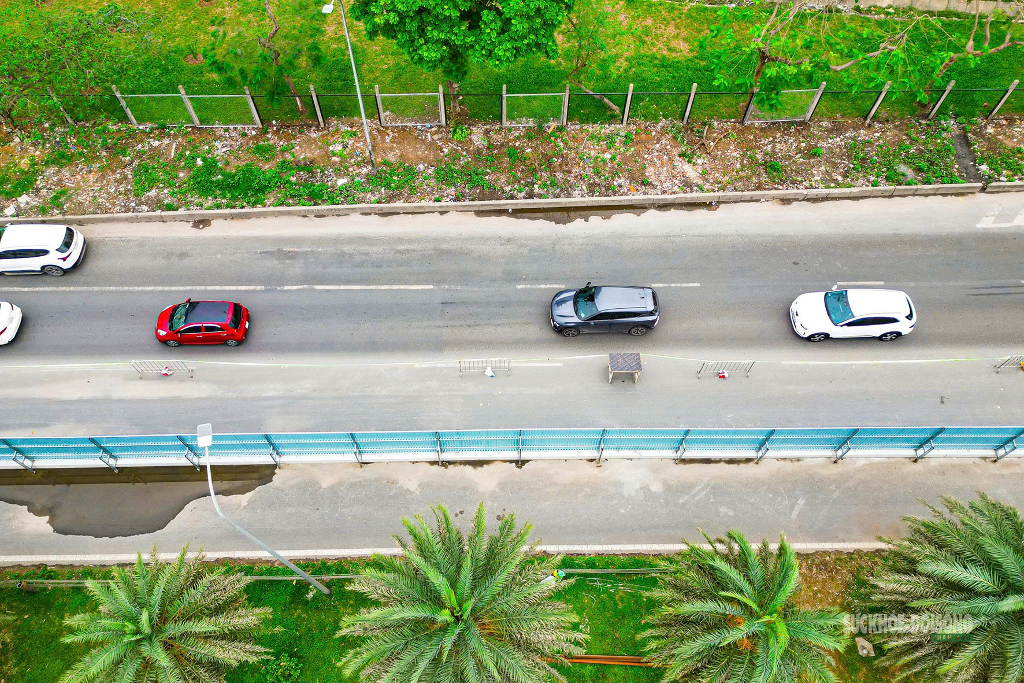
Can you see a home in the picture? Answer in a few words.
No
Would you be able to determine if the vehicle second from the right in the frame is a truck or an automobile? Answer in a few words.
automobile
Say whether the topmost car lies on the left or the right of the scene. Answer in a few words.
left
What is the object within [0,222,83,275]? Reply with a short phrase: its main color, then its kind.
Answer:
white car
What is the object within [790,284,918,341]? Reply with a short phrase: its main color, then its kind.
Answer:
white car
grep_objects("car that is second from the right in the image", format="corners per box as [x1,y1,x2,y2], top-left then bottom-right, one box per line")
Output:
[549,282,661,336]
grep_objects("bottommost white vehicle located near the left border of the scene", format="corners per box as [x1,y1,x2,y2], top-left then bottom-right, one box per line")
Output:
[0,305,28,352]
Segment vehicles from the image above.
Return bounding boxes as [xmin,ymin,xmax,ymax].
[790,284,918,341]
[0,305,28,352]
[153,298,250,346]
[549,282,661,336]
[0,222,83,275]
